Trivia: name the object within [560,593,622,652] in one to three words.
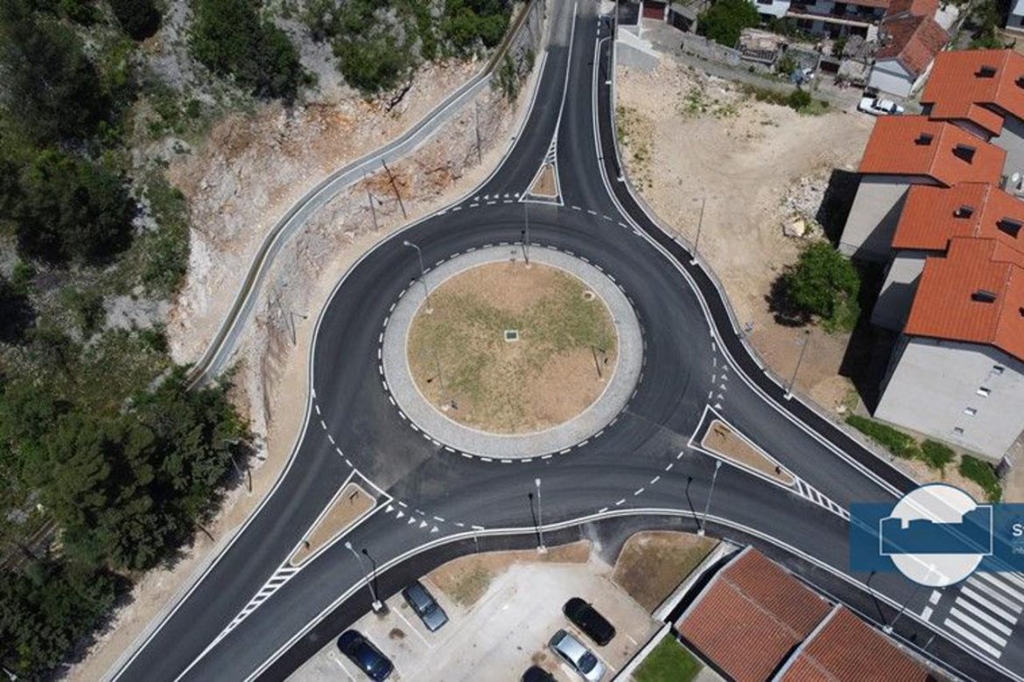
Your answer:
car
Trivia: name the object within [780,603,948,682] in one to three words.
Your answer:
building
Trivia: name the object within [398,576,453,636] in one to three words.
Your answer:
car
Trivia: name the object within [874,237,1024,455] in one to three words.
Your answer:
house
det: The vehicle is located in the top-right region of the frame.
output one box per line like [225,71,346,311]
[856,94,907,116]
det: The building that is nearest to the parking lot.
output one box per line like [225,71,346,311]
[677,544,833,682]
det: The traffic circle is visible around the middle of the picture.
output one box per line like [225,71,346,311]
[311,192,729,533]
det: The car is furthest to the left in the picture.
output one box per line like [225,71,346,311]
[332,626,396,682]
